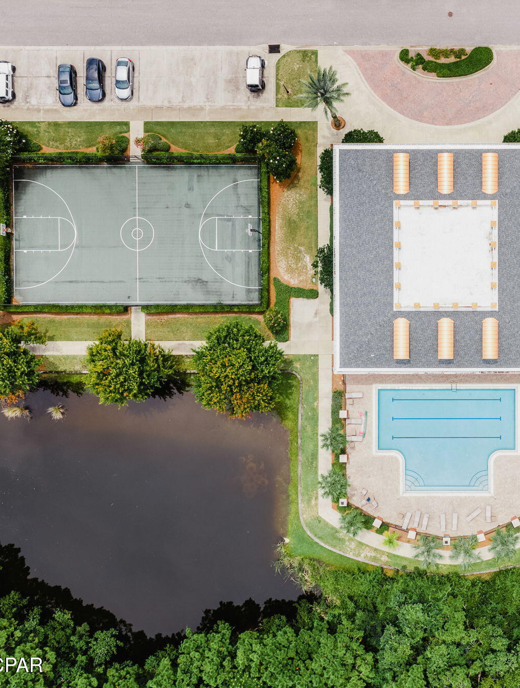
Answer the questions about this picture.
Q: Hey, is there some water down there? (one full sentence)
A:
Yes, the picture does contain water.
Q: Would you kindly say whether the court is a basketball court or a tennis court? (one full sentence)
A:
It turns out the court is a basketball court.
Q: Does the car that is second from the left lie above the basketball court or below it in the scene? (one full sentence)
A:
As seen from overhead, the car that is second from the left falls above the basketball court in the picture.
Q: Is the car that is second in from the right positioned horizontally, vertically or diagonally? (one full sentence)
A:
The car that is second in from the right has been laid out vertically relative to the frame.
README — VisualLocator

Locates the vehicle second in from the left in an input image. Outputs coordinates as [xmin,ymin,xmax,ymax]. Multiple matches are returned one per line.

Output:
[57,64,80,109]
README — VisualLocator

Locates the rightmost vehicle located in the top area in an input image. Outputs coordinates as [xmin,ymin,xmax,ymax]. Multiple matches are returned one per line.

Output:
[245,57,266,92]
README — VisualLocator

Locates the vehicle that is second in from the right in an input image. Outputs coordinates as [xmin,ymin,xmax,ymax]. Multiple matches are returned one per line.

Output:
[113,58,136,103]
